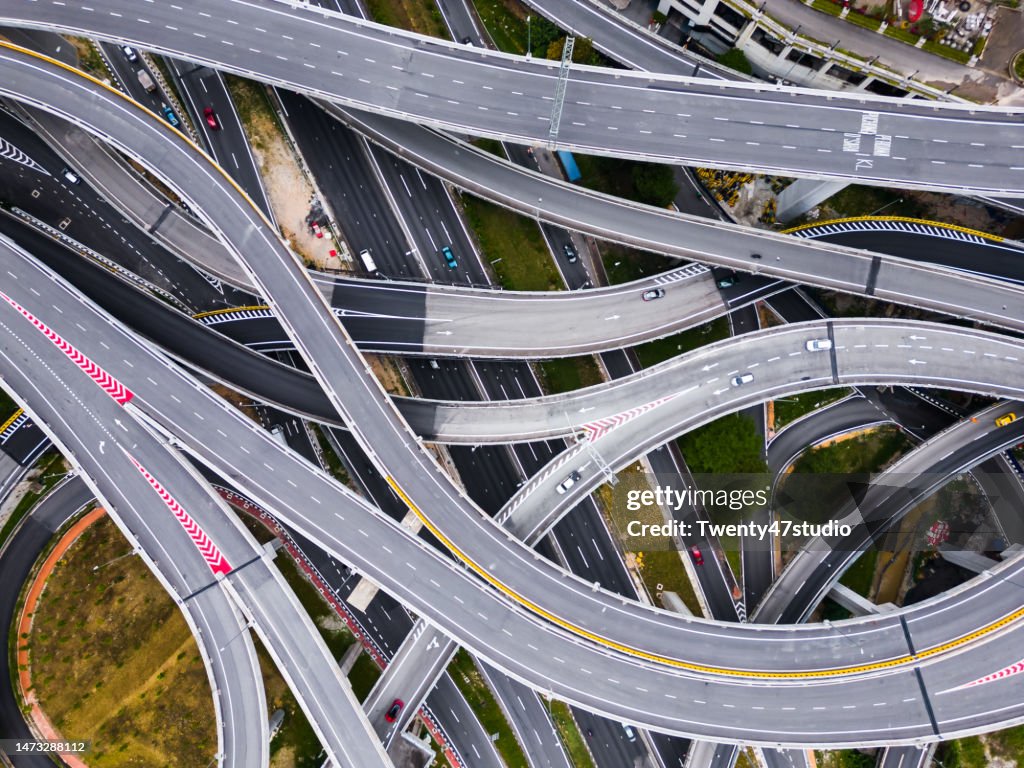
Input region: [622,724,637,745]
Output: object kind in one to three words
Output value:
car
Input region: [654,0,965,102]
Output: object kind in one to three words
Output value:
building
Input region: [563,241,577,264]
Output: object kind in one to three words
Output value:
car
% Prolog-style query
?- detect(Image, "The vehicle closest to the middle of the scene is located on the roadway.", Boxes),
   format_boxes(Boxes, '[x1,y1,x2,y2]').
[426,356,441,375]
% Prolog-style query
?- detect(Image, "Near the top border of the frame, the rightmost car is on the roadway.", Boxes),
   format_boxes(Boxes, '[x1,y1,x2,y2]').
[460,28,474,47]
